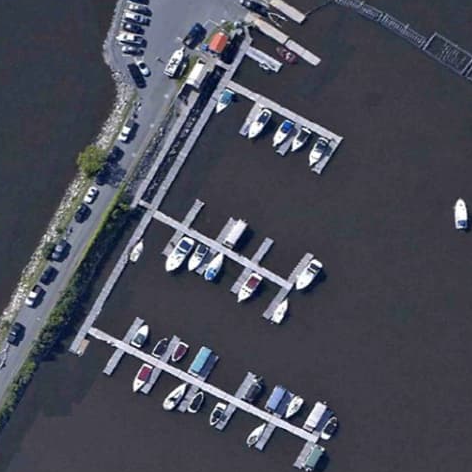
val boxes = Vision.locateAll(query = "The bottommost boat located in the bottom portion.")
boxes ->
[303,444,324,472]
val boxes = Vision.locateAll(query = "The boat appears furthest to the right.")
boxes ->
[453,198,467,231]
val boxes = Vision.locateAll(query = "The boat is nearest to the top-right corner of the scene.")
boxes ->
[277,48,297,65]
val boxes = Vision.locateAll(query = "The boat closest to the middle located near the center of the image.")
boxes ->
[225,219,246,249]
